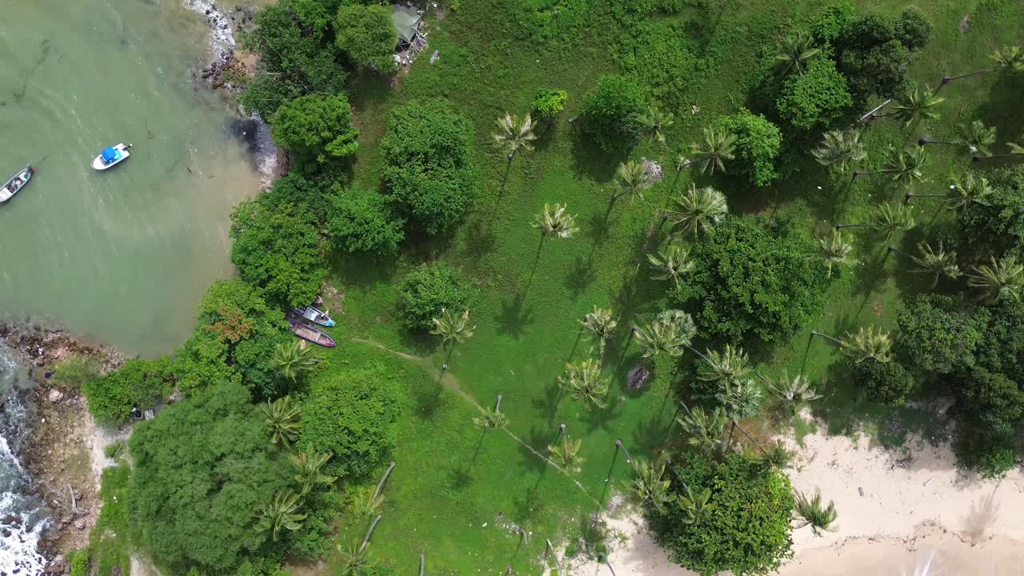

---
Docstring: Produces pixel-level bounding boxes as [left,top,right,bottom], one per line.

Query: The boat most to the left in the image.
[0,166,35,200]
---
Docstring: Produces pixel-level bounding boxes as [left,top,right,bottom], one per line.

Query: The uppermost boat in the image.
[91,142,133,168]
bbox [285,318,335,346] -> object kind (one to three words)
boat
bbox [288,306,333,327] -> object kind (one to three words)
boat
